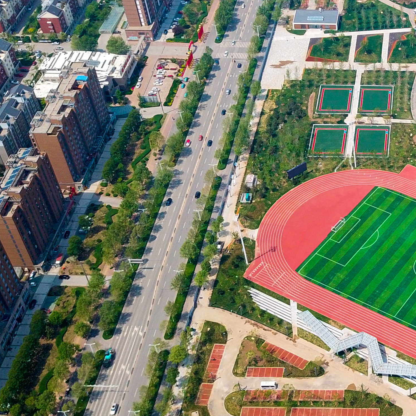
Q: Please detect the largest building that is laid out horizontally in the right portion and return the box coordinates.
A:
[293,7,340,30]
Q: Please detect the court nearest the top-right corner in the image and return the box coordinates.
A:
[356,85,395,115]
